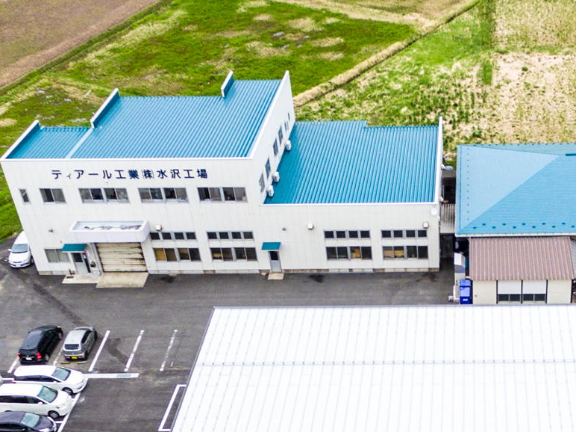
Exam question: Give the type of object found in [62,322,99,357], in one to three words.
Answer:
car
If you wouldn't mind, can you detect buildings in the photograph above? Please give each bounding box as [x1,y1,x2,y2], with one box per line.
[166,304,576,432]
[456,144,576,263]
[2,72,444,273]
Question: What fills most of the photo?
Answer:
buildings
